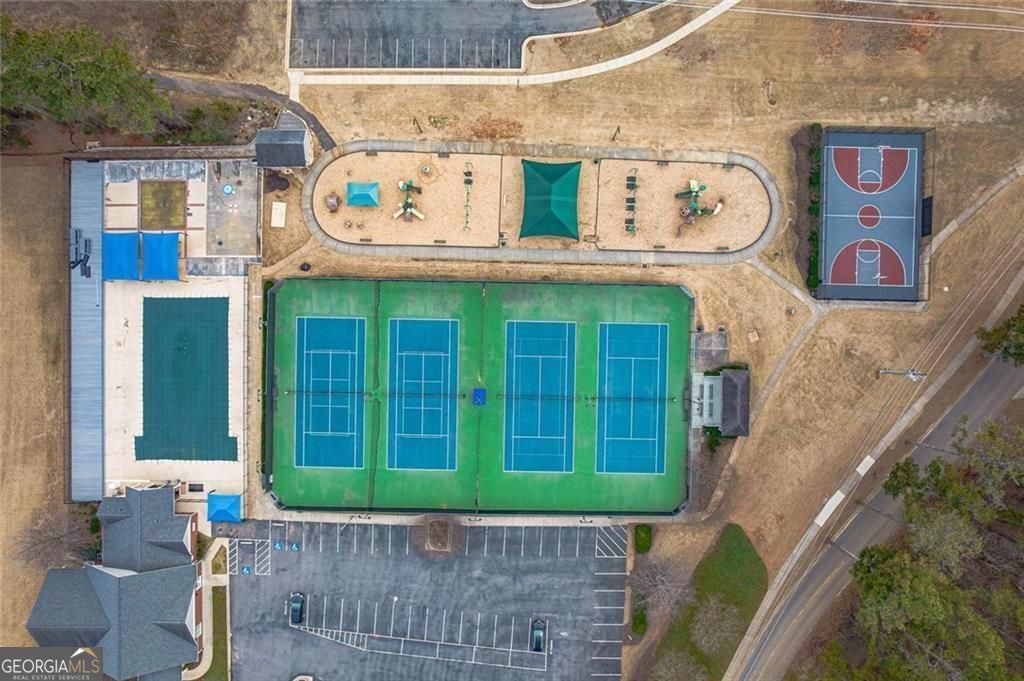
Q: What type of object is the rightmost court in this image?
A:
basketball court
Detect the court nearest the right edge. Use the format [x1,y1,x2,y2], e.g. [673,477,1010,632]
[816,131,923,301]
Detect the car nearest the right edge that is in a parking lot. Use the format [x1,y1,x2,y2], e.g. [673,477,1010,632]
[532,619,546,651]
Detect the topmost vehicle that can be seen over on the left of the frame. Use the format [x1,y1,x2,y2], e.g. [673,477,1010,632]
[289,591,305,623]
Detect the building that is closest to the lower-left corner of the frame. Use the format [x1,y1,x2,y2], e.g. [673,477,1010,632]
[26,485,201,681]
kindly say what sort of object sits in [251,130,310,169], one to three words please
building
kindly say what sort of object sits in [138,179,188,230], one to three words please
swimming pool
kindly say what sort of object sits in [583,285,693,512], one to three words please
tennis court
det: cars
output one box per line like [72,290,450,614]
[289,591,305,623]
[532,619,546,651]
